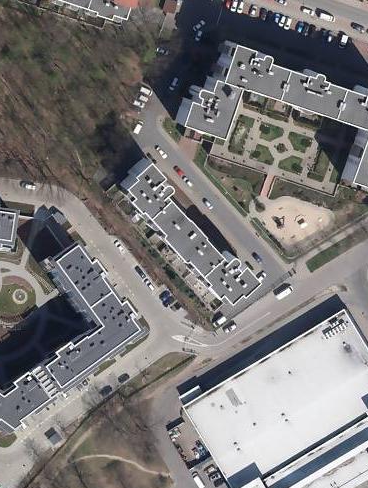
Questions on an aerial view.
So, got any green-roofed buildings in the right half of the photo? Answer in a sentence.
No, I see no green-roofed building in the right half of the photo.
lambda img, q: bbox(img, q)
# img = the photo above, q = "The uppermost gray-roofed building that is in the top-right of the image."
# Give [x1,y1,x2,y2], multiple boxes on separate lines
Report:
[176,42,368,187]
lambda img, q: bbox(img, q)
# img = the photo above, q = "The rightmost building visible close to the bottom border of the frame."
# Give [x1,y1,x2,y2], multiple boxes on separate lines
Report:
[179,310,368,488]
